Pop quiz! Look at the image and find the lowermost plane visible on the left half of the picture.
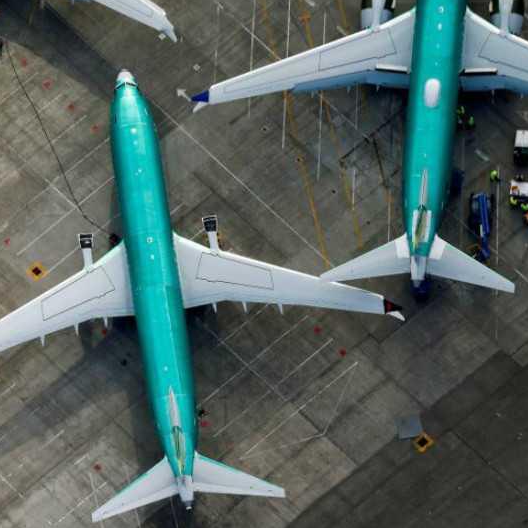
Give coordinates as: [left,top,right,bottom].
[0,68,404,523]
